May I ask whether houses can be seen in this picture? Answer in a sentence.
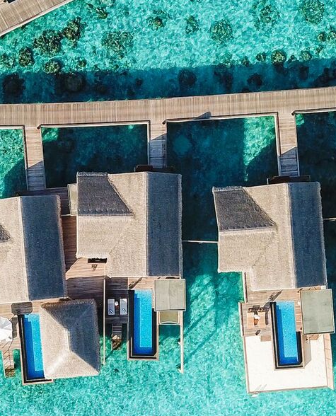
Yes, there is a house in the image.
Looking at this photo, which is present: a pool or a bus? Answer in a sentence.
This aerial view contains a pool.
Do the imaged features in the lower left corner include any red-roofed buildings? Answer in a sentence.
No, I see no red-roofed building in the lower left corner.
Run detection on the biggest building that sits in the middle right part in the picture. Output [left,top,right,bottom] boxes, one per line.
[212,175,325,292]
